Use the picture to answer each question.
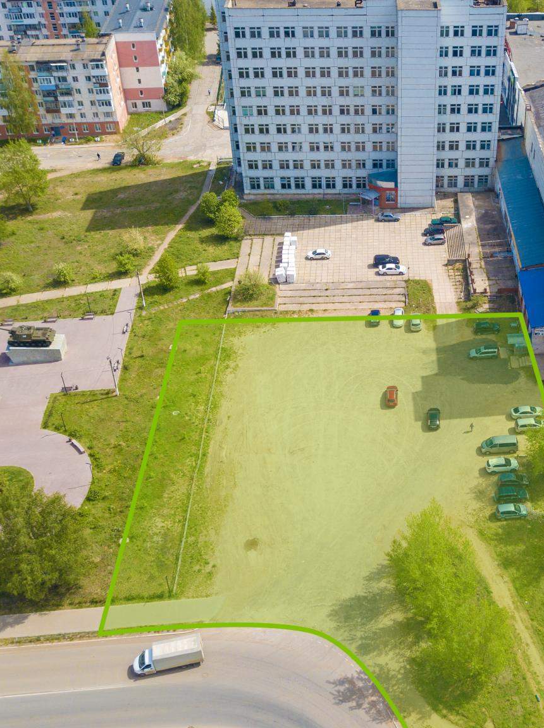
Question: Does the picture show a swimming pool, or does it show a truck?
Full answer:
The image shows a truck.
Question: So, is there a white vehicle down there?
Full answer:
Yes, the image includes a white vehicle.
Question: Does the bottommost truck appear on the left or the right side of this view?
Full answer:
You can find the bottommost truck on the left side of the picture.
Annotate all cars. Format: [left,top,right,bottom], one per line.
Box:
[472,319,501,334]
[510,404,544,419]
[479,434,519,454]
[391,308,404,328]
[369,311,380,327]
[430,215,456,225]
[425,408,442,432]
[372,253,401,264]
[378,263,407,276]
[423,234,447,245]
[409,314,422,333]
[384,388,398,408]
[493,471,531,487]
[513,415,544,433]
[493,483,531,502]
[422,224,446,236]
[484,455,520,474]
[494,503,529,521]
[110,153,127,164]
[376,211,401,222]
[306,248,333,260]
